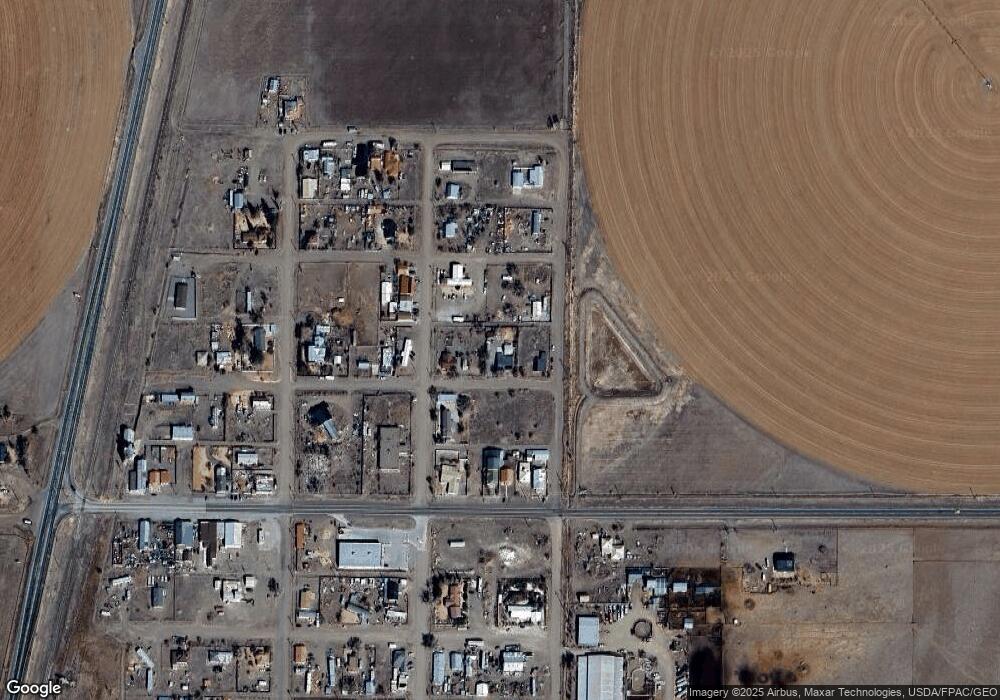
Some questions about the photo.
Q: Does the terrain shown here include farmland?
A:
Yes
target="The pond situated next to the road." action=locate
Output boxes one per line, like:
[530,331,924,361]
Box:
[578,291,668,402]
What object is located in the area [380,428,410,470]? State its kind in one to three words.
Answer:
shed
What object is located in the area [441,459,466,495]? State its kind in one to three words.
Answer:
house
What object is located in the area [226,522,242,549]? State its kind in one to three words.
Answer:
building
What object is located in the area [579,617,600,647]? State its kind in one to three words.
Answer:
barn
